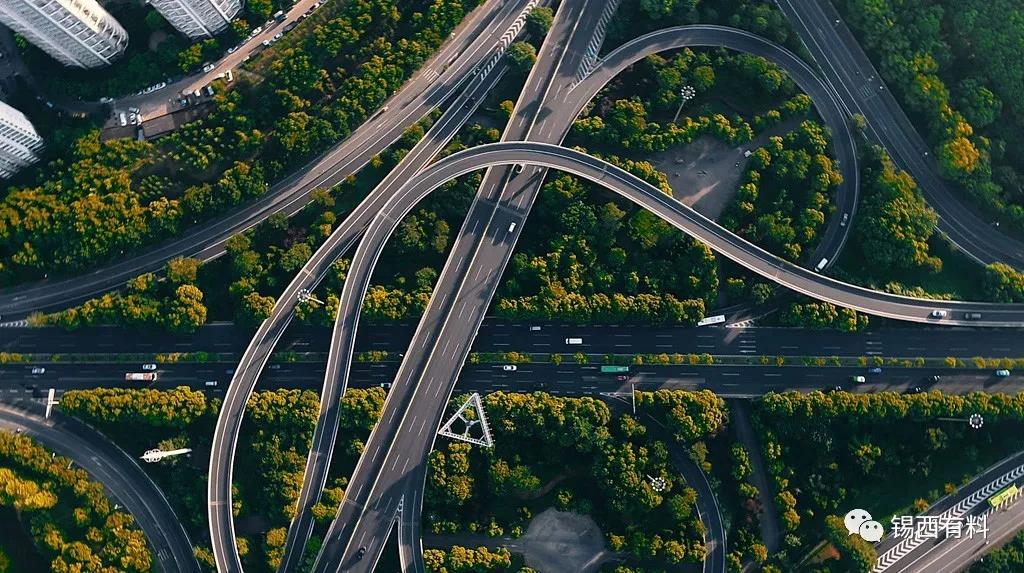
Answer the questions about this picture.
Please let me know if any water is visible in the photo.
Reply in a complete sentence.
No, water can't be seen anywhere here.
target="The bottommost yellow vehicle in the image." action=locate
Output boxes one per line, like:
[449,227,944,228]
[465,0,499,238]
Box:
[989,486,1022,507]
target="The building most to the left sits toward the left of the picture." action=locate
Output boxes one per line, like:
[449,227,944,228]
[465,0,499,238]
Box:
[0,102,46,184]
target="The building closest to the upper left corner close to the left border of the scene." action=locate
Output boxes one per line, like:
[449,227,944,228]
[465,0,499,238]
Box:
[0,0,129,72]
